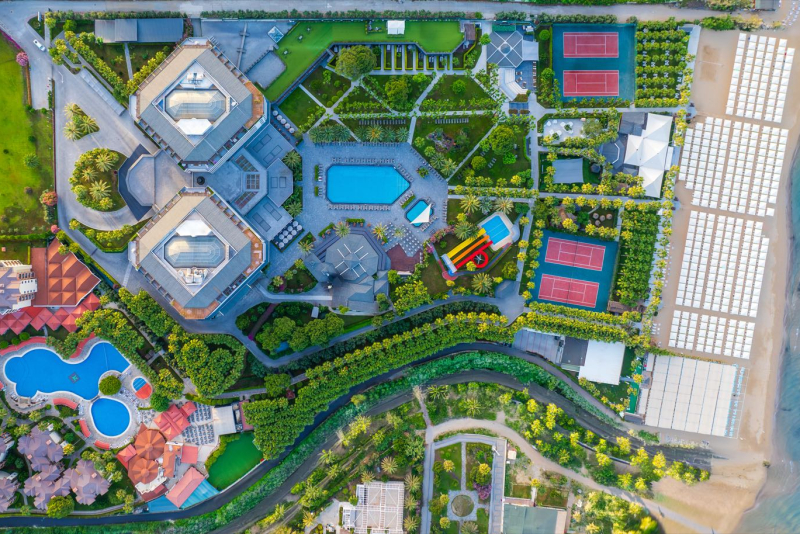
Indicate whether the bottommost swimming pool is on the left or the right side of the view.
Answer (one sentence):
You can find the bottommost swimming pool on the left side of the picture.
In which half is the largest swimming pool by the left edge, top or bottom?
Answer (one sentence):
It is in the bottom half that the largest swimming pool by the left edge appears.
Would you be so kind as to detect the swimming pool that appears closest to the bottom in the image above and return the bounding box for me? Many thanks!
[89,396,133,438]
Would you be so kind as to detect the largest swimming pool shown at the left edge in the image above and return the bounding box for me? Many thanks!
[2,340,132,402]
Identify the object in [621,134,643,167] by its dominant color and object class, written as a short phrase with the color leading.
white tent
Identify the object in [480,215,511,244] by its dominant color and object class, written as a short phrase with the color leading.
blue swimming pool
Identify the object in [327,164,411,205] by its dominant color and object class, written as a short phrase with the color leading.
blue swimming pool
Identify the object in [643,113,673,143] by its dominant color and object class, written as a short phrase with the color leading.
white tent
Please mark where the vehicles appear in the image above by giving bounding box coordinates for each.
[36,11,41,21]
[31,38,45,52]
